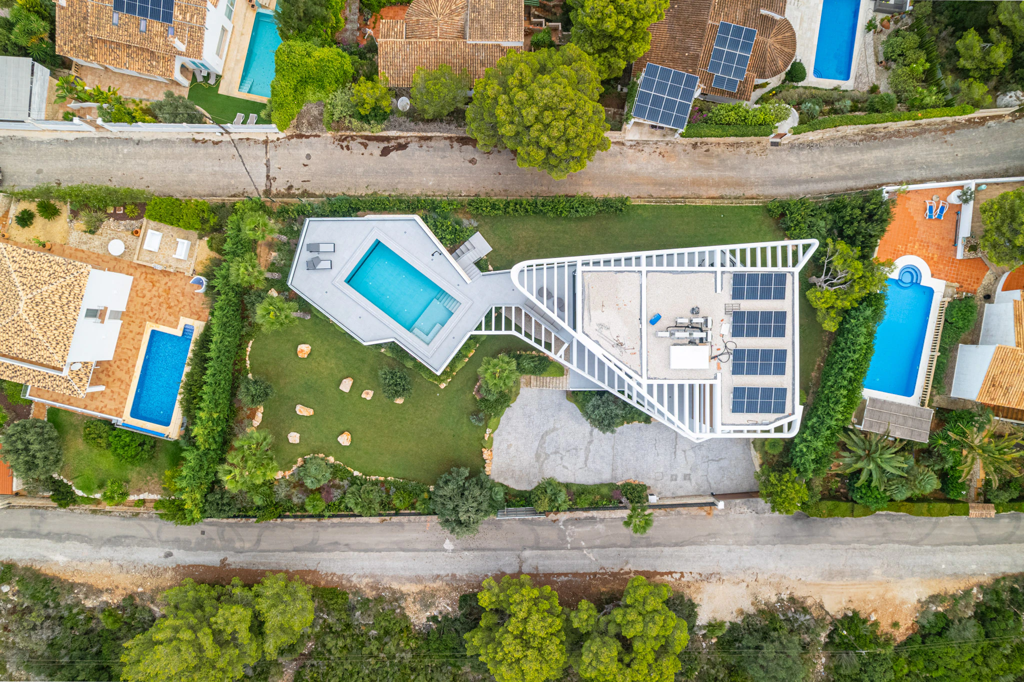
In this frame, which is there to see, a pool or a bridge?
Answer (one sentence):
I can see a pool in this picture.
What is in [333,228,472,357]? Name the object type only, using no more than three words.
swimming pool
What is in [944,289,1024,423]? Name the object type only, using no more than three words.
house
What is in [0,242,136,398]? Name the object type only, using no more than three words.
house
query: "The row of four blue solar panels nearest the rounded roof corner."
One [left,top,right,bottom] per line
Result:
[730,386,787,413]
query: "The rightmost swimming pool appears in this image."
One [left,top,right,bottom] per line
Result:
[849,254,945,405]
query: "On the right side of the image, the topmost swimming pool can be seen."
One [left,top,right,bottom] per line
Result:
[808,0,866,87]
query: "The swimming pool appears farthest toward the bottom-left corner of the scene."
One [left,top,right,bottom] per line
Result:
[123,317,207,439]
